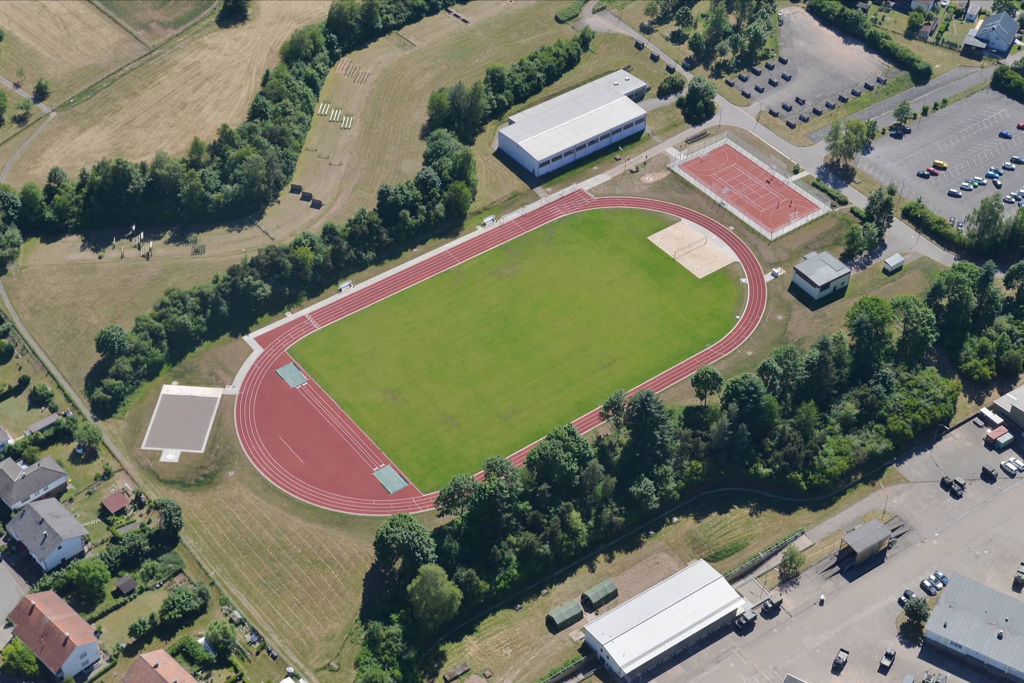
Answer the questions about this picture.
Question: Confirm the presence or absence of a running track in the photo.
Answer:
Yes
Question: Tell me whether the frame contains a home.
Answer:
Yes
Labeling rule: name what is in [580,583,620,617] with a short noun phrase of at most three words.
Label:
tent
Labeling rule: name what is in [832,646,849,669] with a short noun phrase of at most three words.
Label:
vehicle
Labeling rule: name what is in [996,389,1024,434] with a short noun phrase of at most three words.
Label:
building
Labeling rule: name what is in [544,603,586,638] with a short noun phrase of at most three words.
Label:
tent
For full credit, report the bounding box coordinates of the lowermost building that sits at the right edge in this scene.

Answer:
[923,572,1024,683]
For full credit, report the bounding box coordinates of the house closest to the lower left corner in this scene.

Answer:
[8,591,99,678]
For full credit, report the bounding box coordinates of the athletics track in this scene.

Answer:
[234,187,766,515]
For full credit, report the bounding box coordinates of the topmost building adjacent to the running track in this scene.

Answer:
[498,67,647,177]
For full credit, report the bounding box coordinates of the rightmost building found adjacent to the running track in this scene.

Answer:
[789,251,852,300]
